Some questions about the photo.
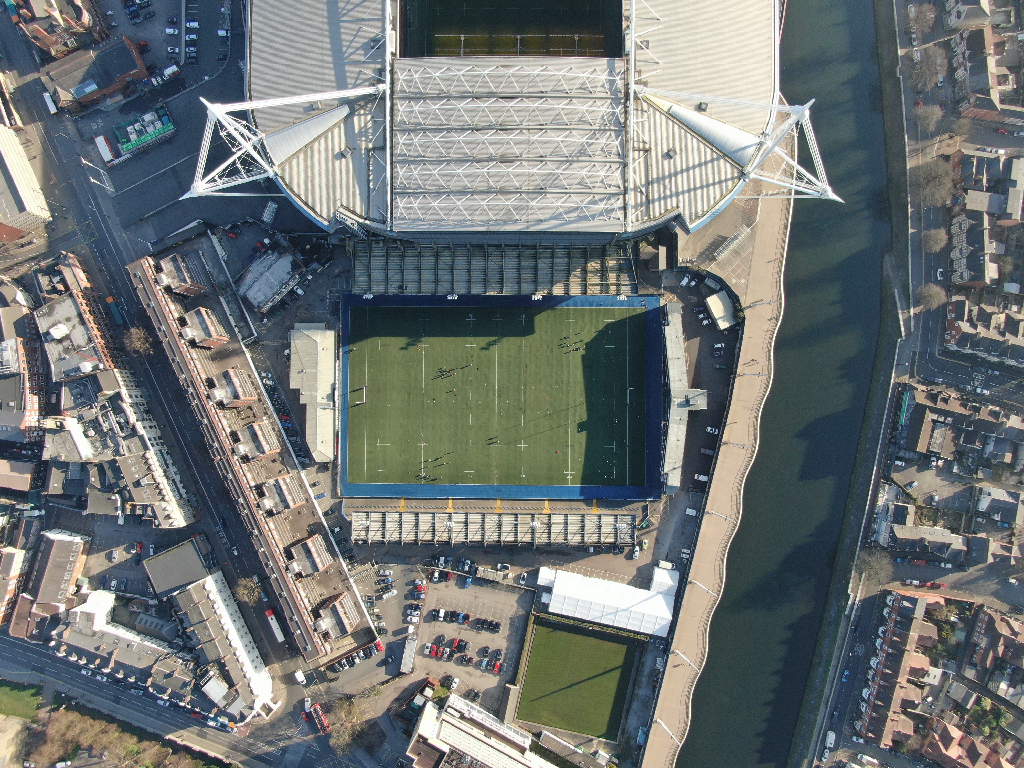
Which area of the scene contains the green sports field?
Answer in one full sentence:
The green sports field appears toward the center of the photo.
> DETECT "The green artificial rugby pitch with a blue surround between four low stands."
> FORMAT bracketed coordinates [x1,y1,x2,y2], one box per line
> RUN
[340,273,662,500]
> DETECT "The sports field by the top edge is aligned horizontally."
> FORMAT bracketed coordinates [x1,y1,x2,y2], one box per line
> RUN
[407,0,611,57]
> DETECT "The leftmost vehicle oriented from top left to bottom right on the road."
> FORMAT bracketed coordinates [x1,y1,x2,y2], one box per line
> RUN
[43,92,62,118]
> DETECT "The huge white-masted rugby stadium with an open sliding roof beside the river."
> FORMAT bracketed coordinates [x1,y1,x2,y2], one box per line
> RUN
[179,0,844,250]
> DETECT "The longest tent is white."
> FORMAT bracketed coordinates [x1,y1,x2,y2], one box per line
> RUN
[549,567,675,637]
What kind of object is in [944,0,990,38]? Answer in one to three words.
house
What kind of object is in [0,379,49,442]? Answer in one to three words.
building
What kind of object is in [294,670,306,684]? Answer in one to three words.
vehicle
